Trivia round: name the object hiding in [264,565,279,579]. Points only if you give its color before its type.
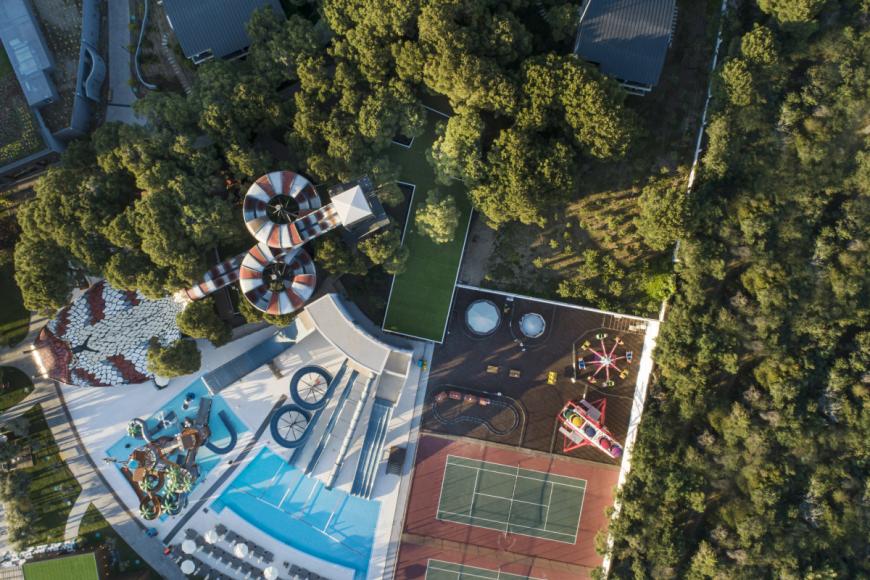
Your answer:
white umbrella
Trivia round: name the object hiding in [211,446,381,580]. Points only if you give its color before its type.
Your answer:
blue swimming pool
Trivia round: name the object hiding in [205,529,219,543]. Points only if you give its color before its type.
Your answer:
white umbrella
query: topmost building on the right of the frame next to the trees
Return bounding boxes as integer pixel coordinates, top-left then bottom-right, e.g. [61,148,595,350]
[574,0,679,96]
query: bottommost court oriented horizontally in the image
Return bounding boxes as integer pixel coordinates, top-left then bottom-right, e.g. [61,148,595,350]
[396,538,595,580]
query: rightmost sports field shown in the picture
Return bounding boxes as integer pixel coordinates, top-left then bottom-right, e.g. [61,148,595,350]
[381,107,477,342]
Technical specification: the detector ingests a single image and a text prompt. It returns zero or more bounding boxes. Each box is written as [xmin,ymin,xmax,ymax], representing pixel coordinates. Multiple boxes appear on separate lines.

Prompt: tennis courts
[396,538,595,580]
[403,435,616,564]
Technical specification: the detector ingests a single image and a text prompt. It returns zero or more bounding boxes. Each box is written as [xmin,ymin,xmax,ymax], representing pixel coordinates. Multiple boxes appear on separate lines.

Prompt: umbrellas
[182,559,196,572]
[205,529,219,543]
[183,538,197,553]
[264,565,279,579]
[234,542,249,556]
